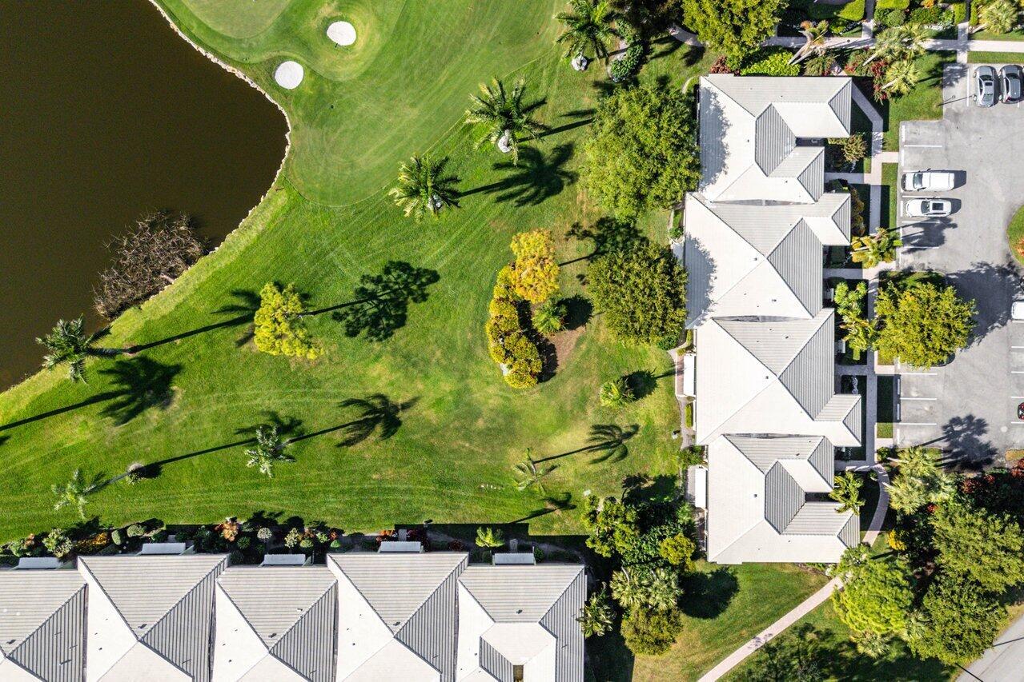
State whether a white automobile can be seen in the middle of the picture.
No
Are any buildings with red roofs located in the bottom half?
No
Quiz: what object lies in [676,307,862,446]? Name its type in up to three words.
house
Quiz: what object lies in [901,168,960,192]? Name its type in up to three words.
vehicle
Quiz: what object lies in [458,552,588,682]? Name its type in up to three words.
house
